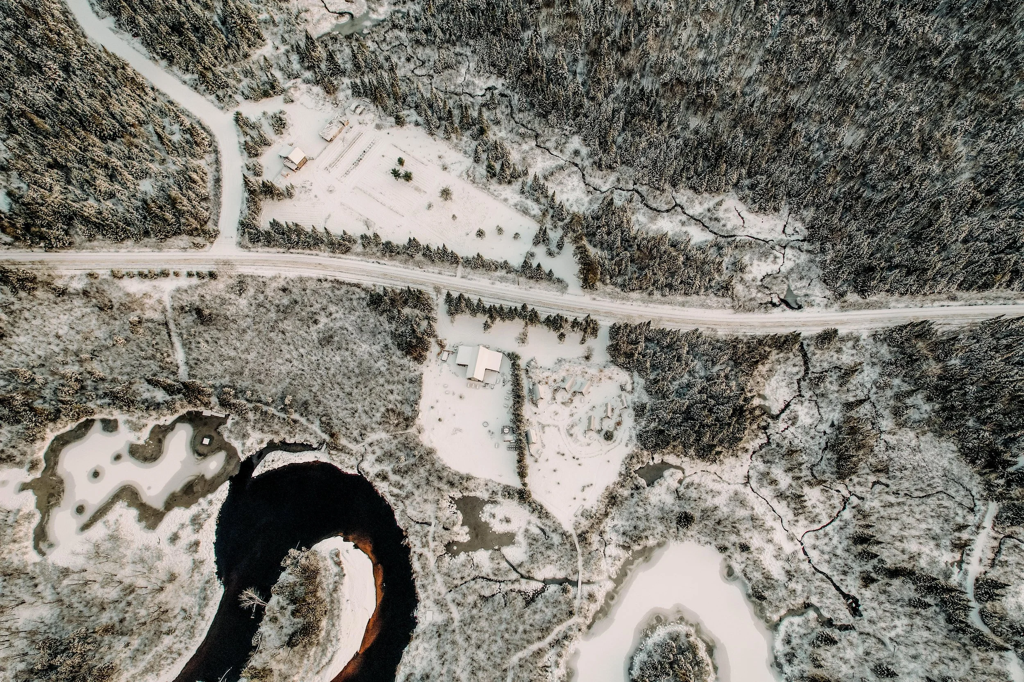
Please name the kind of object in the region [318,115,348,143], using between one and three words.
shed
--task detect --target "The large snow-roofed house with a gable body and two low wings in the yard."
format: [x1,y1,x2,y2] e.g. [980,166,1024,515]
[455,345,503,385]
